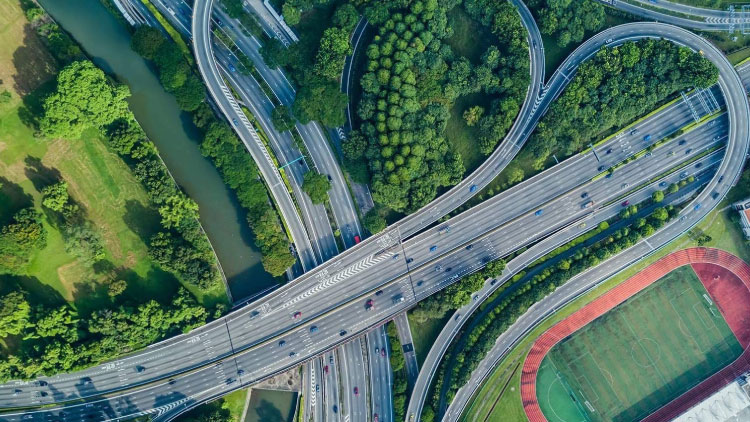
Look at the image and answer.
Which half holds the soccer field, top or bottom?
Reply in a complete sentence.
It is in the bottom half that the soccer field appears.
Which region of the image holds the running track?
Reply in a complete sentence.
You can find the running track in the bottom right area of the picture.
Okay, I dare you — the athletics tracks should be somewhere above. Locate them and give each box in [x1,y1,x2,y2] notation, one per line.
[520,247,750,422]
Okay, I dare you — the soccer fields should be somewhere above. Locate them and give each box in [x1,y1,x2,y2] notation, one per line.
[546,264,746,422]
